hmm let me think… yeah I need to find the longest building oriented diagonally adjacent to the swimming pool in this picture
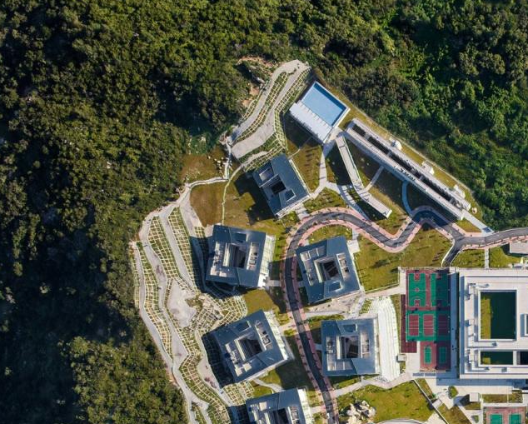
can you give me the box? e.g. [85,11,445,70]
[346,119,472,223]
